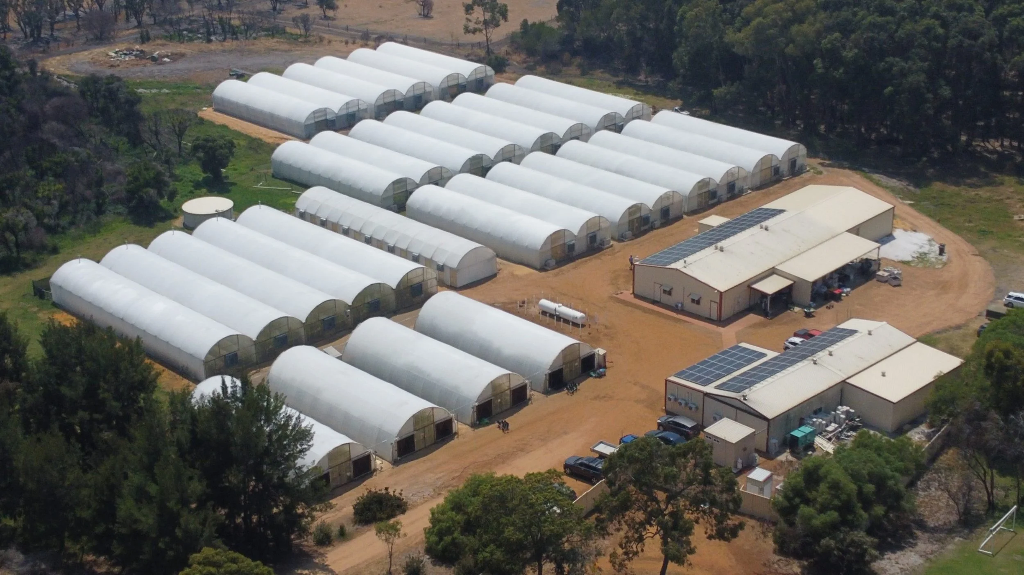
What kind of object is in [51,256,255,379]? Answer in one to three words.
greenhouse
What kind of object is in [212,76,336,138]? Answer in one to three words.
greenhouse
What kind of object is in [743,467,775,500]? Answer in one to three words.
shed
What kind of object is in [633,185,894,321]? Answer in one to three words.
shed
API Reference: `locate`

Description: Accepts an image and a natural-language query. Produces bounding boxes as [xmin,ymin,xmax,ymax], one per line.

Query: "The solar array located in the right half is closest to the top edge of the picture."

[640,207,785,265]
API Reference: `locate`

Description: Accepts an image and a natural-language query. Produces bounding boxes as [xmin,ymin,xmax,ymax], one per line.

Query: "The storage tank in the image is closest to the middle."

[539,296,585,324]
